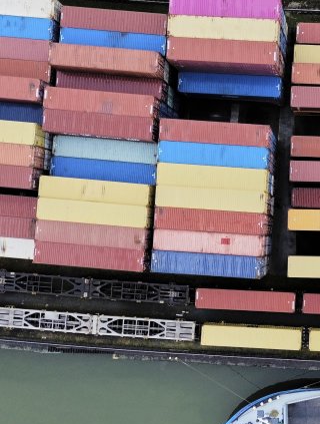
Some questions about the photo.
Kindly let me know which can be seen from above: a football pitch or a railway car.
railway car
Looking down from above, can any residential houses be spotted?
No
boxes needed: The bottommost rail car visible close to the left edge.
[0,308,94,336]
